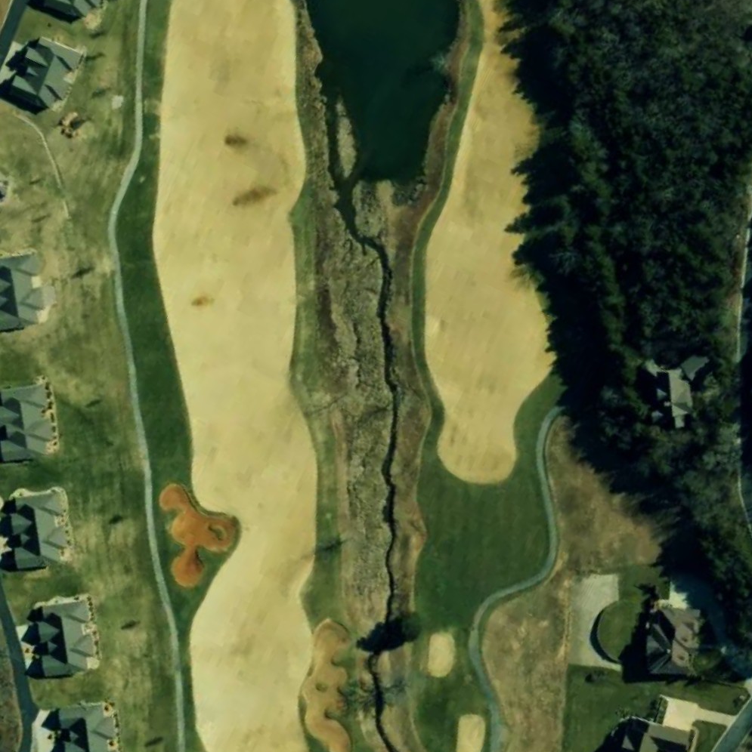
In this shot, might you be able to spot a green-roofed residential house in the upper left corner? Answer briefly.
Yes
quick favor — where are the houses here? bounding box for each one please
[46,0,102,19]
[60,708,115,752]
[0,254,45,329]
[0,387,53,463]
[645,353,714,430]
[622,719,695,752]
[643,609,702,676]
[37,602,93,678]
[11,33,83,112]
[8,493,66,569]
